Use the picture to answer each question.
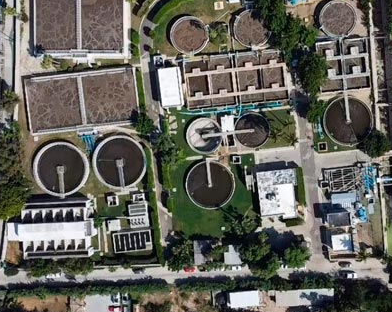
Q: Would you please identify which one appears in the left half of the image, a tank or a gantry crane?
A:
tank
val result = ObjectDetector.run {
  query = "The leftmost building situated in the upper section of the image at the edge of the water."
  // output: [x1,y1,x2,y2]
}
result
[157,67,185,107]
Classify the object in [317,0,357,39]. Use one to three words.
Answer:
storage tank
